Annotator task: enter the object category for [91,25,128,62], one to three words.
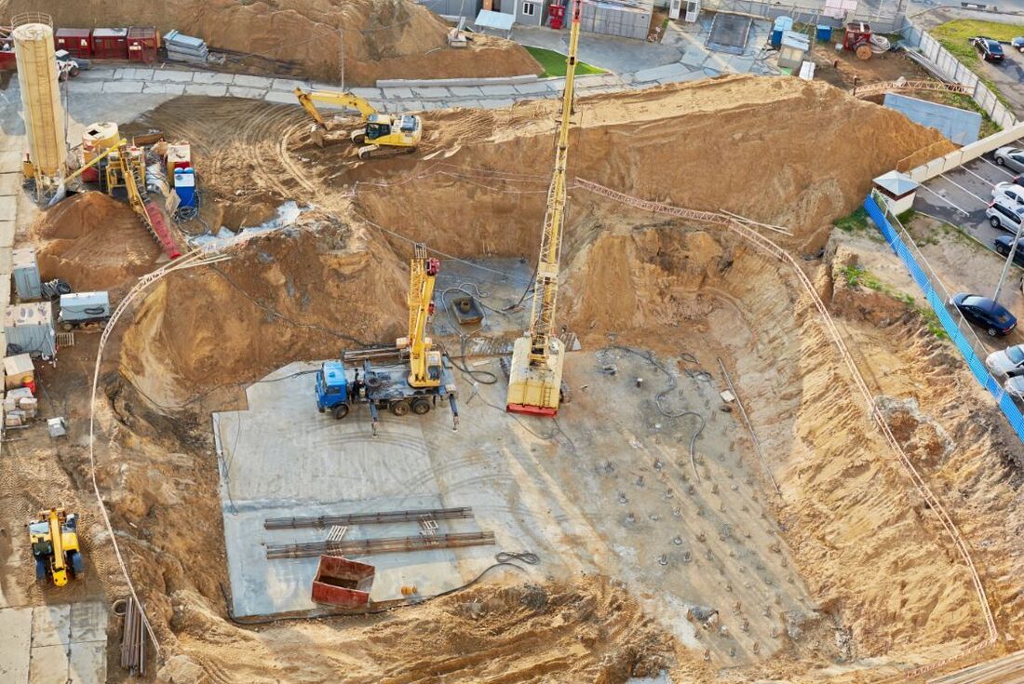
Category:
building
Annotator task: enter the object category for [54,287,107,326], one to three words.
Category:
trailer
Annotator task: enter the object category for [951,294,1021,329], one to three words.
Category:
car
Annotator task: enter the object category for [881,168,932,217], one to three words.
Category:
shed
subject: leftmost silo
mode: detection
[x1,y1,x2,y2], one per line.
[5,6,68,190]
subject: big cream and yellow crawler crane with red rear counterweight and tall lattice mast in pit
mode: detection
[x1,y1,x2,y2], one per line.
[506,0,587,417]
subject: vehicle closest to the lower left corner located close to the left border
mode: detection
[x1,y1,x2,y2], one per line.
[25,496,85,580]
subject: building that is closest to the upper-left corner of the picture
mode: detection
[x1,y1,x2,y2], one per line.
[52,23,94,61]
